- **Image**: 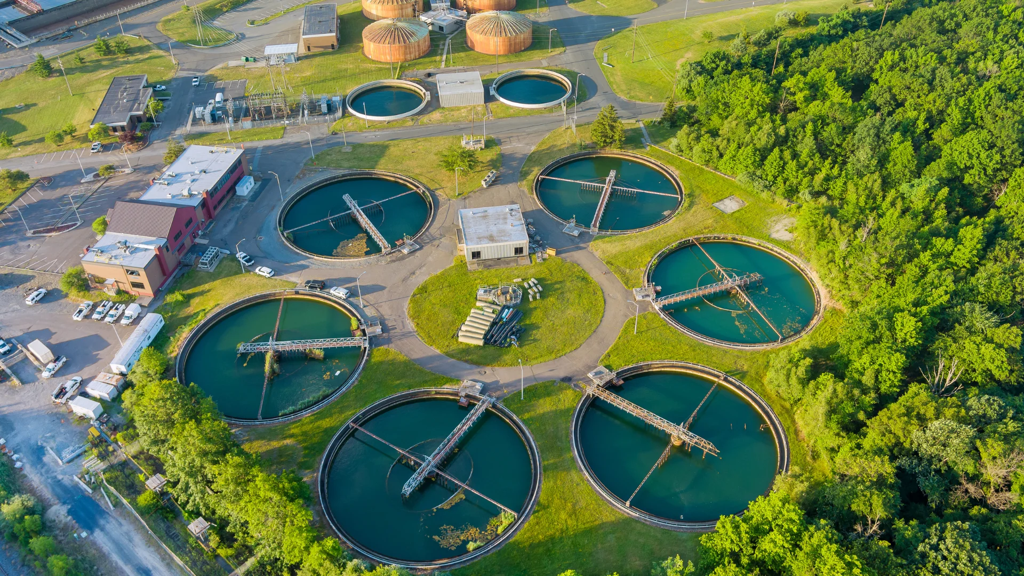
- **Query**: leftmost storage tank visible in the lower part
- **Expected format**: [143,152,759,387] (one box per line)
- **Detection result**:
[176,287,385,424]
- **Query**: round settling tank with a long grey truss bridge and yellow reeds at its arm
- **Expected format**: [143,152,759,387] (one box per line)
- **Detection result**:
[320,377,538,567]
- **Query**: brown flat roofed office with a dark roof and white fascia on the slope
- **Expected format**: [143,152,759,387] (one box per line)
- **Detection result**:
[91,74,155,136]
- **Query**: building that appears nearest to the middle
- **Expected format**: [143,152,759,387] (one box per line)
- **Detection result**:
[456,204,529,267]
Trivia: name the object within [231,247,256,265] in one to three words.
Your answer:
vehicle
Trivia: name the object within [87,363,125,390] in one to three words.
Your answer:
shed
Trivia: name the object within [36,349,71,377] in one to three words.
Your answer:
truck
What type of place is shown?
industrial area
